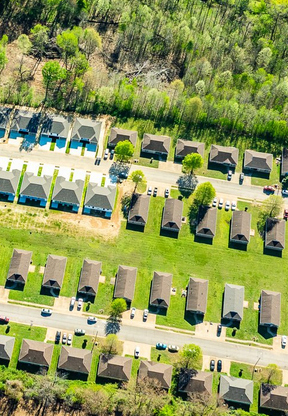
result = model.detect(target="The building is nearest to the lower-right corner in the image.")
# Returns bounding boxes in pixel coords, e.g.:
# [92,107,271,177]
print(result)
[256,384,288,414]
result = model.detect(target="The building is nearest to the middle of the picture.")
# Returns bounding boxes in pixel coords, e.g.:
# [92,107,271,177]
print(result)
[123,196,149,229]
